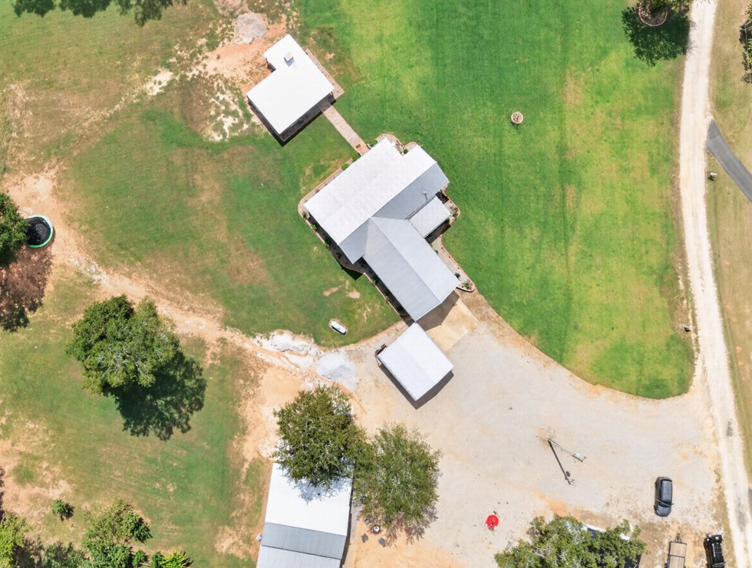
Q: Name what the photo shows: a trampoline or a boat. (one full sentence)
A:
I can see a trampoline in this picture.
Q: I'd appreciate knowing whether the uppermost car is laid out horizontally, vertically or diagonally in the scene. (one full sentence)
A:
I'd say the uppermost car is aligned vertically in the picture.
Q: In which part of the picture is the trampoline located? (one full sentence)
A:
The trampoline is located in the left region of the scene.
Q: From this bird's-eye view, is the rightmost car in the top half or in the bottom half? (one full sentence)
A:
The rightmost car is in the bottom half of the image.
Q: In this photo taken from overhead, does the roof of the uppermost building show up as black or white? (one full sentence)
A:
In this view, the roof of the uppermost building is white.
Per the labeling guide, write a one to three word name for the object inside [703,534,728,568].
car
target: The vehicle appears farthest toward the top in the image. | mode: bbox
[654,477,678,520]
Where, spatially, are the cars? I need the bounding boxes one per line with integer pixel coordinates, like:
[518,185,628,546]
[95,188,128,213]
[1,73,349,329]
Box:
[654,477,678,520]
[703,534,728,568]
